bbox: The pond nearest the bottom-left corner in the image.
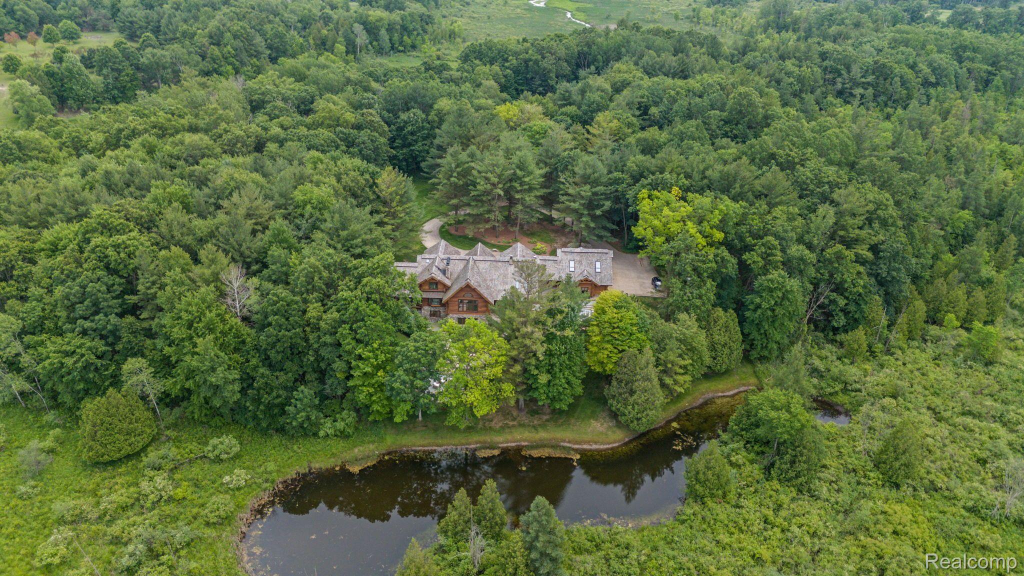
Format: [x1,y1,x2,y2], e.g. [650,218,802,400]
[243,389,777,576]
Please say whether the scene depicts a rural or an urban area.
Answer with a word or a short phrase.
rural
